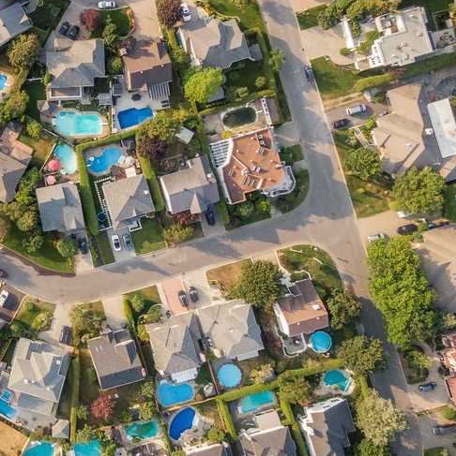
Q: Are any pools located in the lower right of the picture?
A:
Yes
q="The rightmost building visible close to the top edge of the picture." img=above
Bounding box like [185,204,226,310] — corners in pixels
[349,6,433,70]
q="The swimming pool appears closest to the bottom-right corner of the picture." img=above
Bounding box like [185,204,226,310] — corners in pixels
[321,369,352,397]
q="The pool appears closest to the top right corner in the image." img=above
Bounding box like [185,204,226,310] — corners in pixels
[221,106,261,131]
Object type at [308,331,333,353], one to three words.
swimming pool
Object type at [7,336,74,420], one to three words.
house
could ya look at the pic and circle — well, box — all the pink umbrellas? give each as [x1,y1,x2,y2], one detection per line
[46,174,56,185]
[47,158,60,171]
